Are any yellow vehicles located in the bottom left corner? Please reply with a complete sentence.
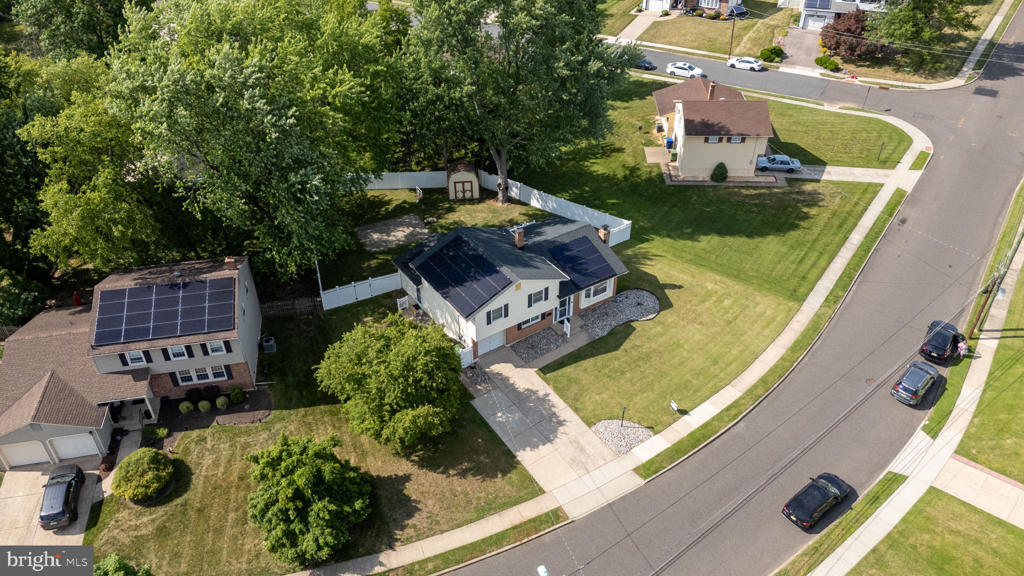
No, no yellow vehicle appears in the bottom left corner.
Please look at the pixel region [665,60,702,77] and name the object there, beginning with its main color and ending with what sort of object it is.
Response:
white car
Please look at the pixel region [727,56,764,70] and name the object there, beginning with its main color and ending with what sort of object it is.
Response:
white car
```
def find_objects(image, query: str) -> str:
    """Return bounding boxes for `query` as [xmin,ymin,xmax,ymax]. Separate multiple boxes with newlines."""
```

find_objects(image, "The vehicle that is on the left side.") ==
[36,466,83,529]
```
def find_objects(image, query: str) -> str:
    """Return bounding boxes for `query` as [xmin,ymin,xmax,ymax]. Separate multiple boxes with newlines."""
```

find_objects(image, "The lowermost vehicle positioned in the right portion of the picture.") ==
[786,476,851,529]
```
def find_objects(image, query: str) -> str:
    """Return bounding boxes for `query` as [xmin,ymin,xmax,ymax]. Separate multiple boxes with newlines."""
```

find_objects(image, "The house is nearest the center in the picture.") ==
[392,216,629,362]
